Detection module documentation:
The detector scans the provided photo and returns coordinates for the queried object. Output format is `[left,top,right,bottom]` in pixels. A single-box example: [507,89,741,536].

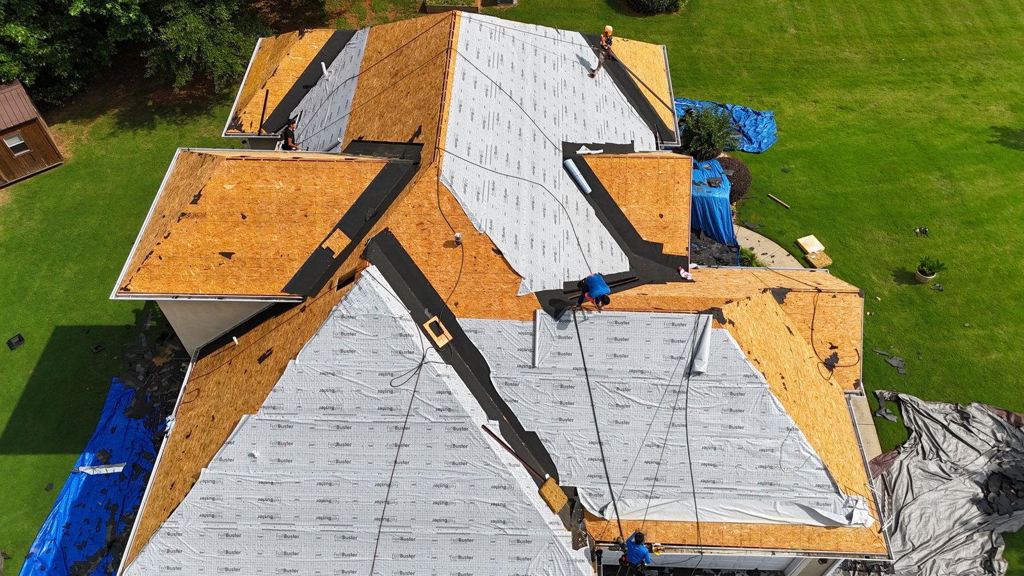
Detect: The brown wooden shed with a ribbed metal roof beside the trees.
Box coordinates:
[0,79,63,186]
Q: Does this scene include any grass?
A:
Yes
